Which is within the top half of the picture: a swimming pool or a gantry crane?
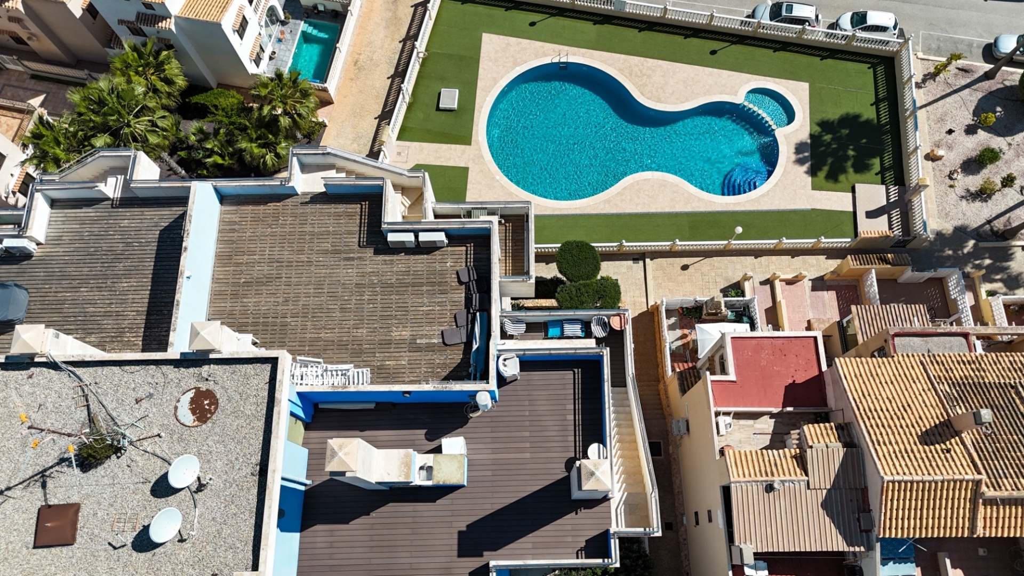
swimming pool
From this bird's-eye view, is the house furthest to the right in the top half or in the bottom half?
bottom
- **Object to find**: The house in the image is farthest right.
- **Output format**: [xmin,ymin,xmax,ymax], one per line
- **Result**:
[822,319,1024,540]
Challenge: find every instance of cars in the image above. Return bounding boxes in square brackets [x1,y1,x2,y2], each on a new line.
[832,8,898,45]
[751,0,822,33]
[984,33,1024,66]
